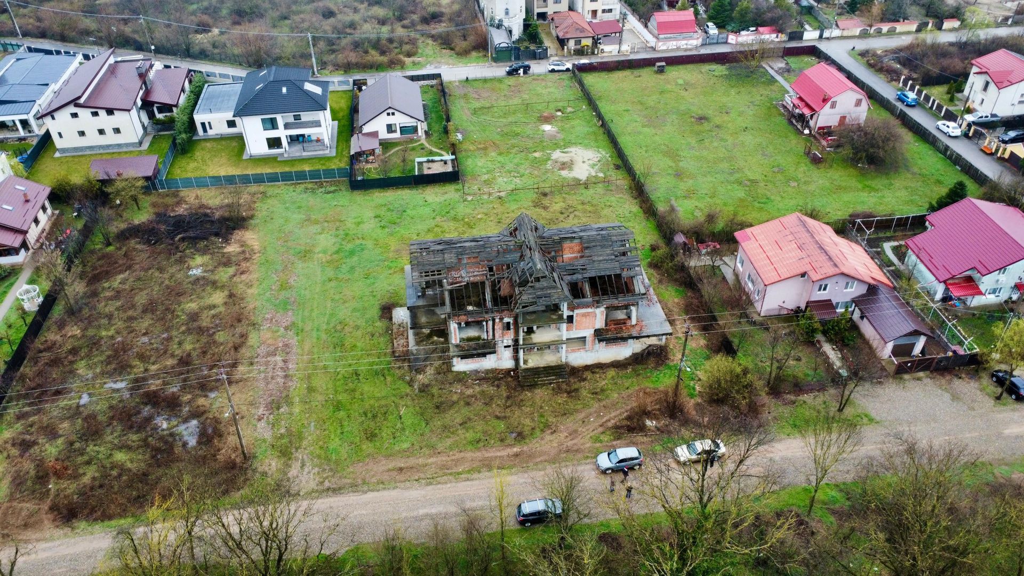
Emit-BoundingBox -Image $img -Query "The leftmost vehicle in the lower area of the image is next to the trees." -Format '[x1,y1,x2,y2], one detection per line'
[514,498,567,528]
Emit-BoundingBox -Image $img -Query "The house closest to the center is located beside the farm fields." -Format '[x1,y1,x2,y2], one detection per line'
[391,211,672,386]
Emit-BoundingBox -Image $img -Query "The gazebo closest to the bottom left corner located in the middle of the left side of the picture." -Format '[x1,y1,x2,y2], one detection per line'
[11,284,44,314]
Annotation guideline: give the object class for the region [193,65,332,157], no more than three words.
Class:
house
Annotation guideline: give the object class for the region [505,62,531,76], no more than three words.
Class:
car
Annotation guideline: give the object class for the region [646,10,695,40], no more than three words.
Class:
building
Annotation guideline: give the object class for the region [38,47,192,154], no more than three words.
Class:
house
